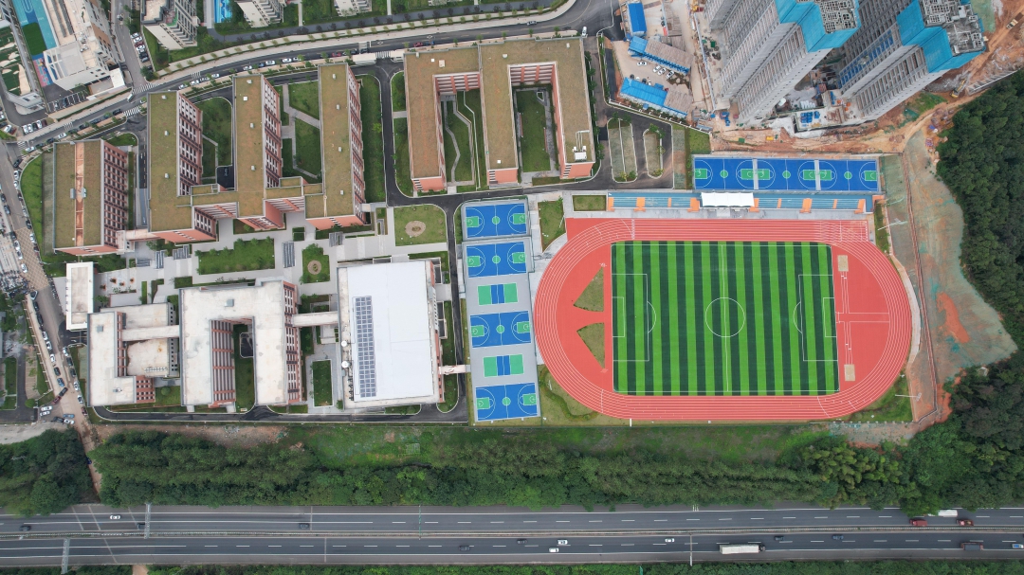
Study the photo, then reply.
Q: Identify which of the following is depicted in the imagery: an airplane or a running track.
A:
running track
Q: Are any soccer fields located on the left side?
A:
No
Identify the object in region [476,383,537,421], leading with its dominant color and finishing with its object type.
blue basketball court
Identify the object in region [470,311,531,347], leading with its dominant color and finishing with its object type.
blue basketball court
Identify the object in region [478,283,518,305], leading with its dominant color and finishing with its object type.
green sports court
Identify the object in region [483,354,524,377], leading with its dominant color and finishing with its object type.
green sports court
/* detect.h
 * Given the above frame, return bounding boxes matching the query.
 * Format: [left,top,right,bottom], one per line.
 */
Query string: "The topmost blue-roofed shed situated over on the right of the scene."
[627,1,646,37]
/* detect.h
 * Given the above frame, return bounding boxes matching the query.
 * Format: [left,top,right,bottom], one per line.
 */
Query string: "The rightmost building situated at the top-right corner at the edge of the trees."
[830,0,990,111]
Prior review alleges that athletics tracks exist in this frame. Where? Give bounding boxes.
[535,219,910,418]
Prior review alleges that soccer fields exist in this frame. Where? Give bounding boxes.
[610,240,839,396]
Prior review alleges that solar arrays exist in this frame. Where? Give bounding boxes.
[355,296,376,398]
